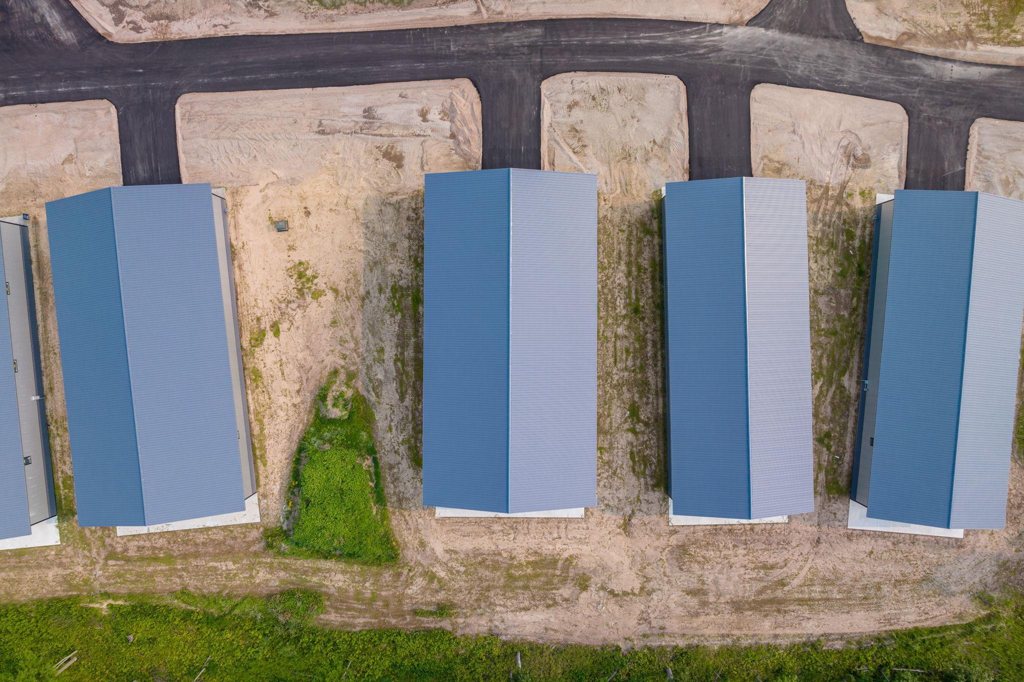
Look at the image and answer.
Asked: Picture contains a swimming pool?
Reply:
No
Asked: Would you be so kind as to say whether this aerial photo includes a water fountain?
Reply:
No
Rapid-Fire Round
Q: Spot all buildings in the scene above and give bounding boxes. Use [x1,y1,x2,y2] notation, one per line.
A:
[0,208,58,550]
[44,184,257,537]
[849,189,1024,539]
[661,176,814,526]
[422,167,598,518]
